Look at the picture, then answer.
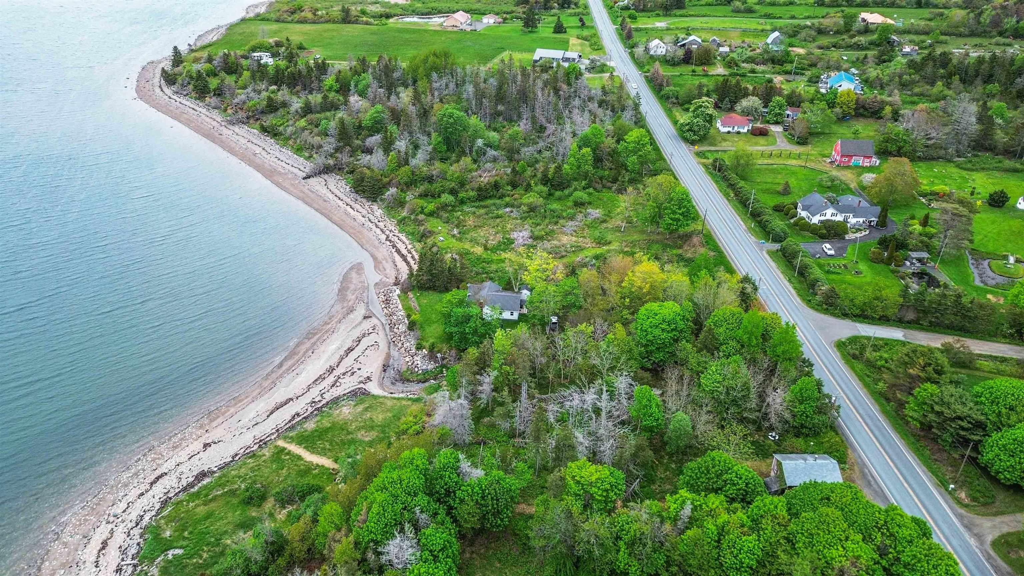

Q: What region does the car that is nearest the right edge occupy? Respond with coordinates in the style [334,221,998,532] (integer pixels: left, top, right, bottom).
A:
[820,242,837,255]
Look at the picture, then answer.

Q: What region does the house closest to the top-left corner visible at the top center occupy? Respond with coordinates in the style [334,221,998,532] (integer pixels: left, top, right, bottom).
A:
[441,10,473,27]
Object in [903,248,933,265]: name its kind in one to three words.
building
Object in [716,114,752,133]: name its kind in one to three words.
house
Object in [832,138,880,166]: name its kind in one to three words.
barn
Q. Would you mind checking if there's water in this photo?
Yes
